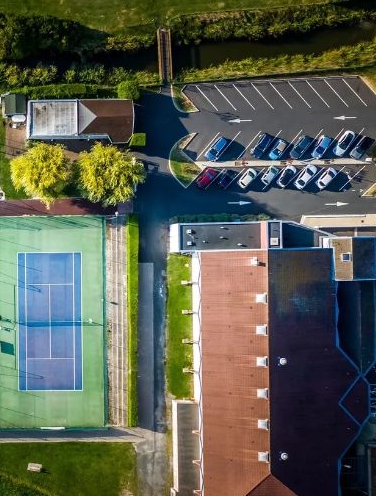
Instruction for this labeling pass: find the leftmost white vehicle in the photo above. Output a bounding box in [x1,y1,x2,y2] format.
[236,166,258,189]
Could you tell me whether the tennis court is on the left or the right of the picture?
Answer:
left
